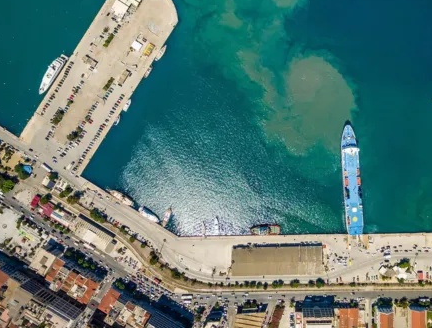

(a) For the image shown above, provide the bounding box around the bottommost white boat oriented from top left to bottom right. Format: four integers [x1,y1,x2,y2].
[138,206,160,222]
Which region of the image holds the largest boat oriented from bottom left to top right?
top left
